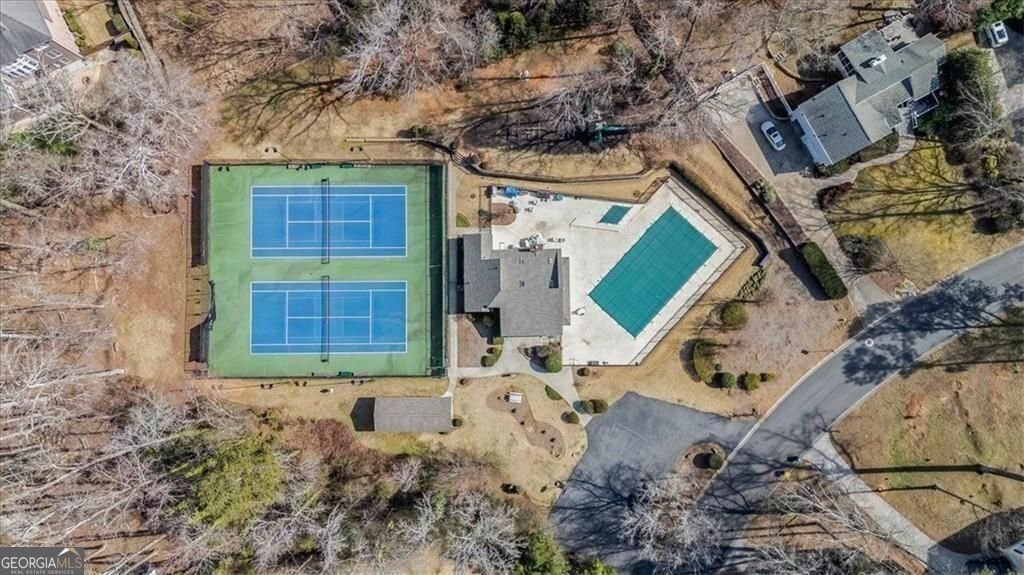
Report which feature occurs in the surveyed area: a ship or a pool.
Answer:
pool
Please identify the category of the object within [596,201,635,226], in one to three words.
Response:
swimming pool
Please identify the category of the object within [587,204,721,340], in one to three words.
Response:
swimming pool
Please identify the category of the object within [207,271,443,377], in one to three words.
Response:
tennis court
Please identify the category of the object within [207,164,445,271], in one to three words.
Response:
tennis court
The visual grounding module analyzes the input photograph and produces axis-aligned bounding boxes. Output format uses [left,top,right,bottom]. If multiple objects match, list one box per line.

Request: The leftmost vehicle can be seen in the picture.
[762,119,788,151]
